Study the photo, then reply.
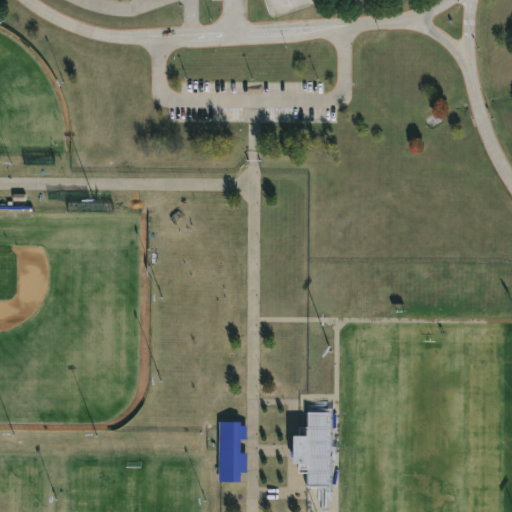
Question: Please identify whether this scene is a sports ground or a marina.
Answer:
sports ground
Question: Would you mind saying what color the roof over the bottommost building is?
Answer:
blue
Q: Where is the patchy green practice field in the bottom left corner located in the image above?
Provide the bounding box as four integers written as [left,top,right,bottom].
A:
[0,456,52,512]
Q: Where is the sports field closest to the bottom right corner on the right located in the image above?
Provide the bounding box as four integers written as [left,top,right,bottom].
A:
[340,323,512,512]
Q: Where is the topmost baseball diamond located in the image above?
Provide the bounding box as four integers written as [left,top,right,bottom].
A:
[0,26,72,160]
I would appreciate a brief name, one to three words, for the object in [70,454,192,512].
soccer field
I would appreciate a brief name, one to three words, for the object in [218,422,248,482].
building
